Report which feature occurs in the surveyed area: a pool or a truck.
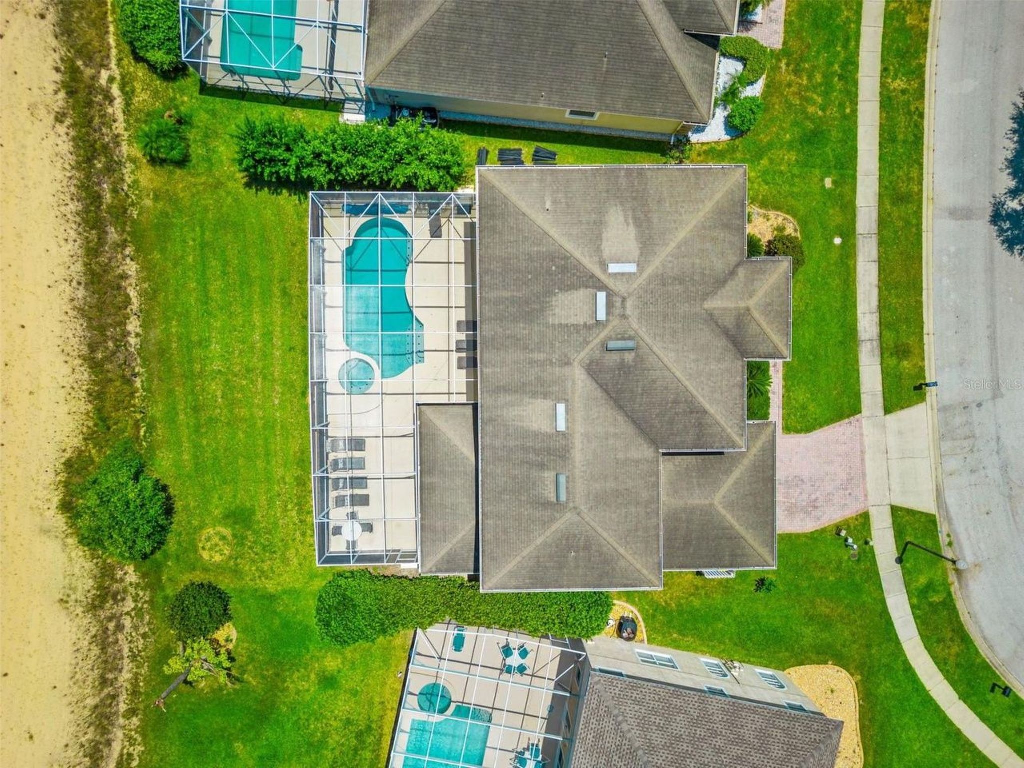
pool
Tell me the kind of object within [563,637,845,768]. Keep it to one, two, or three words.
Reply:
house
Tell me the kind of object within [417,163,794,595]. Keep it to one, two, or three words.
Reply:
house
